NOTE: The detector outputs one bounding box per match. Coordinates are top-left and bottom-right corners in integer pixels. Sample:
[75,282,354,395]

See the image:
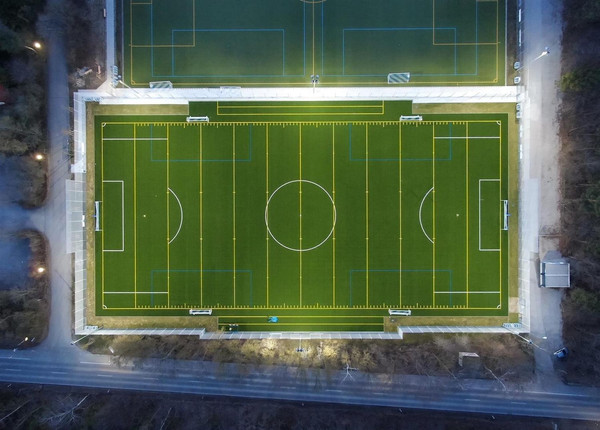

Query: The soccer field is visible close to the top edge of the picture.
[122,0,506,87]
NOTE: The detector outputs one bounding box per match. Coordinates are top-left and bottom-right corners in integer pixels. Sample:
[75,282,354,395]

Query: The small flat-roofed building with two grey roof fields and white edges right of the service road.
[534,262,570,287]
